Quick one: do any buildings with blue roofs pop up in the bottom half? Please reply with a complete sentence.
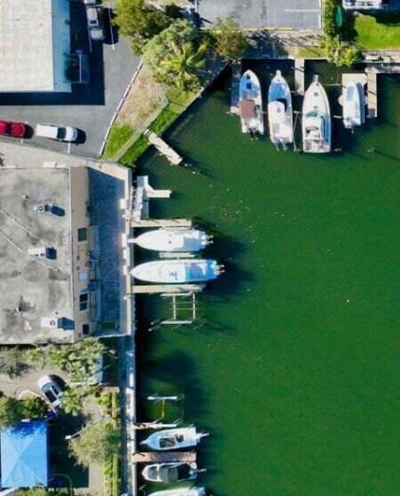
Yes, a building with a blue roof can be seen in the bottom half.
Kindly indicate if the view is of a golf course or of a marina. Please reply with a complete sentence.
It's a marina.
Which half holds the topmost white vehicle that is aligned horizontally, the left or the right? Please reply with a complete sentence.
The topmost white vehicle that is aligned horizontally is on the left side of the image.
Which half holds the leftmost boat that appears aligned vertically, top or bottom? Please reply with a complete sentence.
The leftmost boat that appears aligned vertically is in the top half of the image.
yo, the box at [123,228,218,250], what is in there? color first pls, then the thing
white boat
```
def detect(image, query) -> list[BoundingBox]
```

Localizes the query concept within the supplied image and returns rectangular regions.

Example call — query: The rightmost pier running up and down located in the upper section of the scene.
[364,75,380,118]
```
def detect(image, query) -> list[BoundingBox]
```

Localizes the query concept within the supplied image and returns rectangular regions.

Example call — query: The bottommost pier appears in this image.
[136,448,197,465]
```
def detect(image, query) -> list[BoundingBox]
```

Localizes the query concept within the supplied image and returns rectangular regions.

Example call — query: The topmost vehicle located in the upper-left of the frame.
[81,0,106,42]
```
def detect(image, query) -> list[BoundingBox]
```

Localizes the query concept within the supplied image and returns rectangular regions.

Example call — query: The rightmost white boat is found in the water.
[343,82,363,132]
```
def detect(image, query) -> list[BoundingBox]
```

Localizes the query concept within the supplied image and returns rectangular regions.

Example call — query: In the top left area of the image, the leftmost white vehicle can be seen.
[33,123,84,143]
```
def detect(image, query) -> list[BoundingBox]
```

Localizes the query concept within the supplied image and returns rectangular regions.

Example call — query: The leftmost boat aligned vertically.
[237,69,265,140]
